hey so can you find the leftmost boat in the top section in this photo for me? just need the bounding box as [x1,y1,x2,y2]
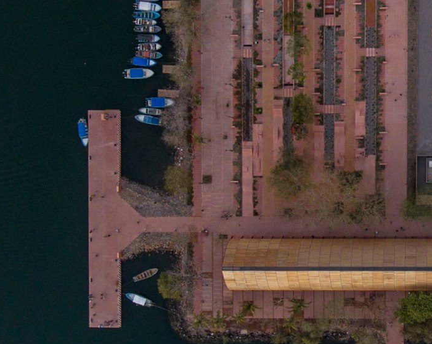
[76,117,89,146]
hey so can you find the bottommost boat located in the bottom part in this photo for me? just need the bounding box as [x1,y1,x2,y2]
[126,294,154,308]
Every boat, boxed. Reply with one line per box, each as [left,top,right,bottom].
[128,56,156,67]
[132,18,157,25]
[134,115,162,127]
[132,269,158,282]
[132,51,162,59]
[121,68,154,78]
[132,0,161,12]
[130,11,160,18]
[126,294,154,308]
[139,107,162,115]
[76,117,89,146]
[142,97,174,107]
[131,25,161,33]
[134,34,159,42]
[133,43,161,51]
